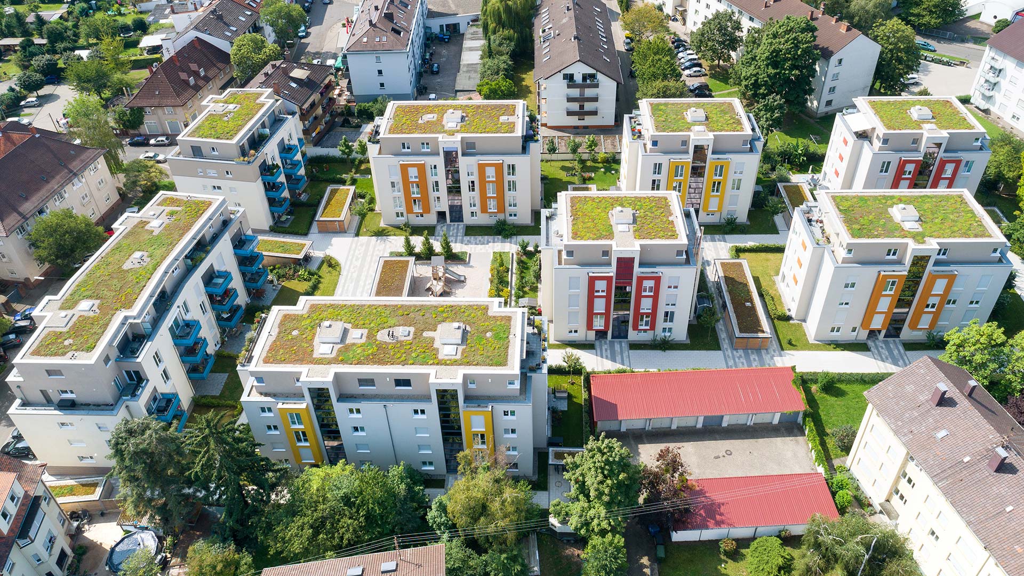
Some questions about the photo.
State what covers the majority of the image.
buildings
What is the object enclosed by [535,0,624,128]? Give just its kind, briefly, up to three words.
house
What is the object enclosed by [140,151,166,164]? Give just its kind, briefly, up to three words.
vehicle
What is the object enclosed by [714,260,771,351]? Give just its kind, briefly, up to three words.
shed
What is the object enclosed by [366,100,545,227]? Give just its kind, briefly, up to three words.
building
